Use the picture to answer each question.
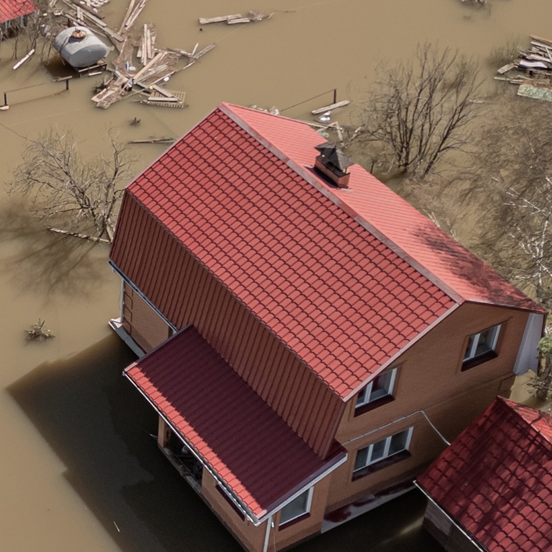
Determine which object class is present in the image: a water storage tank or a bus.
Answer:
water storage tank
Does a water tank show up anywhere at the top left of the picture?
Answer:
Yes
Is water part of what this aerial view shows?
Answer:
Yes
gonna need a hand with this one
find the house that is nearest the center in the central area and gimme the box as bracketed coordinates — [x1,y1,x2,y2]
[105,99,550,552]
